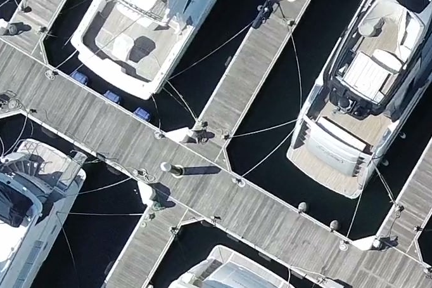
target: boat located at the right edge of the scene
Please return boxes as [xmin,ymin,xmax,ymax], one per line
[287,0,432,199]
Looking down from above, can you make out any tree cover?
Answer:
No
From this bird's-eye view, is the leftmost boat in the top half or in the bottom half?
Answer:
bottom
